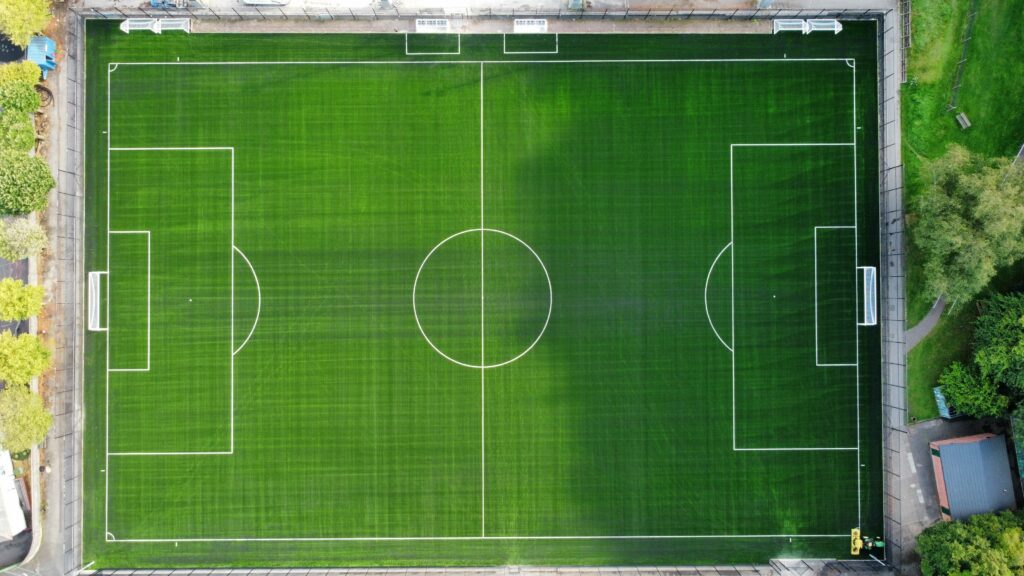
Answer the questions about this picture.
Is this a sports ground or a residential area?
sports ground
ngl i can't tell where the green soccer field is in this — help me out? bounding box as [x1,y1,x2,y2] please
[83,19,885,570]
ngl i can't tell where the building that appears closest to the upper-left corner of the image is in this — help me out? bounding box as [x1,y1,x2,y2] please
[24,37,59,82]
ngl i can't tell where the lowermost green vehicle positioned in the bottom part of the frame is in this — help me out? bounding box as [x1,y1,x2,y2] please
[864,537,887,553]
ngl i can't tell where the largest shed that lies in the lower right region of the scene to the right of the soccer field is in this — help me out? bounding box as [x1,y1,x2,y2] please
[930,433,1016,524]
